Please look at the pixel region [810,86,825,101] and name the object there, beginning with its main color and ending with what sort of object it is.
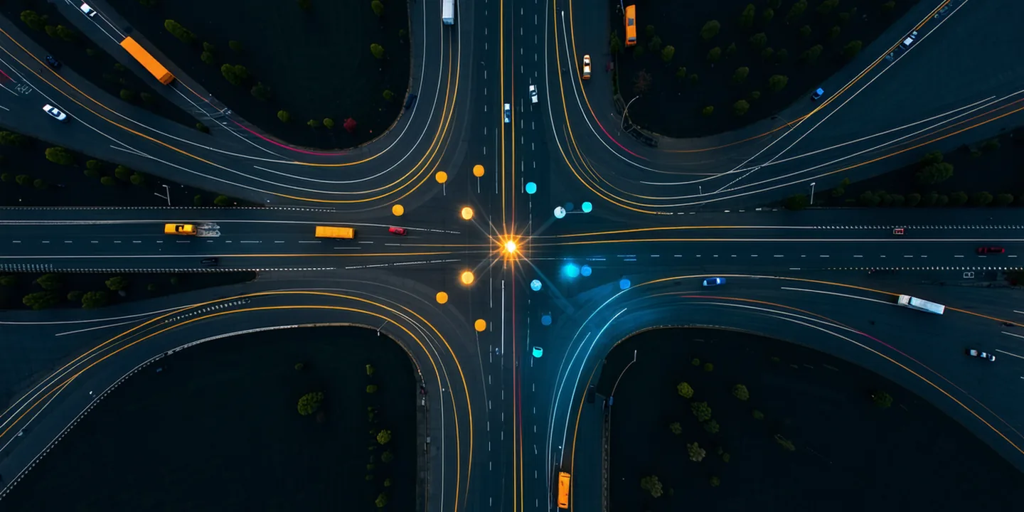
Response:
blue car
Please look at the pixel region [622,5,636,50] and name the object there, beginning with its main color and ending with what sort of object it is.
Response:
orange vehicle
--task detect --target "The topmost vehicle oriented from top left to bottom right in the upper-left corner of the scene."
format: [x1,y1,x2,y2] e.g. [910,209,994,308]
[79,1,99,19]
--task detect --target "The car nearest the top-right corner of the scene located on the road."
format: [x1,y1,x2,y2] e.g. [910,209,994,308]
[933,1,951,18]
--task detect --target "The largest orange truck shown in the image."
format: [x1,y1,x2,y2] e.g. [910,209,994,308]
[119,35,180,88]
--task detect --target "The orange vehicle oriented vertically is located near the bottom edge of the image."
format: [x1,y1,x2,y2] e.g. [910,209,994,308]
[557,467,572,508]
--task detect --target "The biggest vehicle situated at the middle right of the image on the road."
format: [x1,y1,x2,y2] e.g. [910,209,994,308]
[890,292,946,314]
